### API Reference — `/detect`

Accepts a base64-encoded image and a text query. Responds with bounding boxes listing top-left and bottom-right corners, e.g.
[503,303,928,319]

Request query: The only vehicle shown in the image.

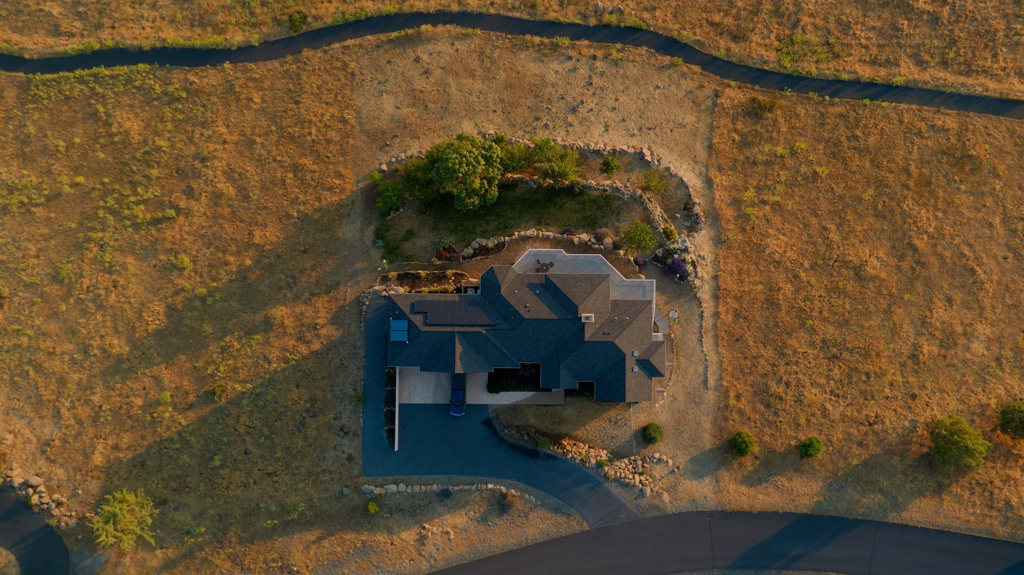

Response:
[448,374,467,418]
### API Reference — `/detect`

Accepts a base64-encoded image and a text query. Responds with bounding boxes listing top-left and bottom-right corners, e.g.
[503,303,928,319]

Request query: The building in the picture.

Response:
[387,264,666,404]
